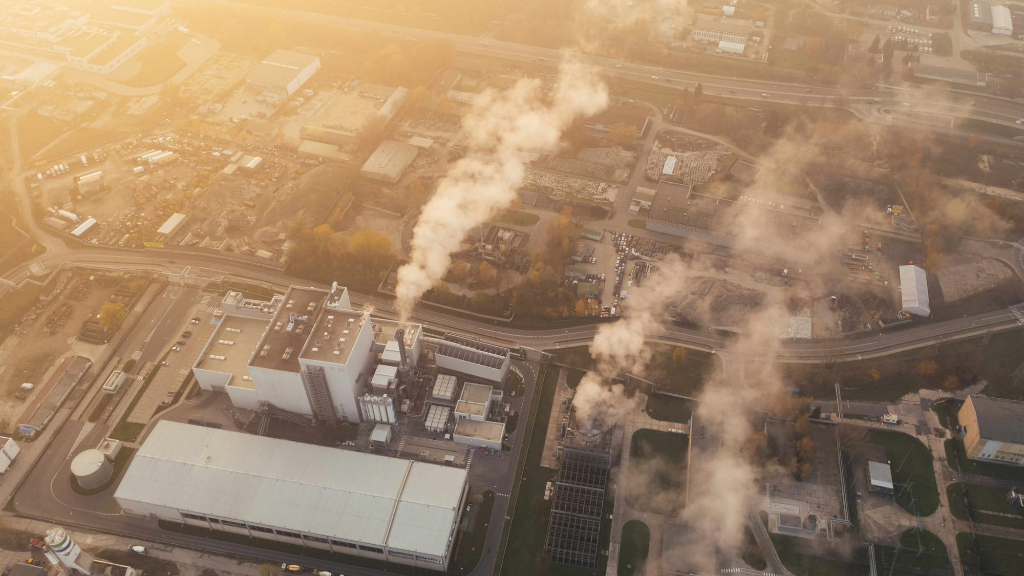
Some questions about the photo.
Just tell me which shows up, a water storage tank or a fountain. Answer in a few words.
water storage tank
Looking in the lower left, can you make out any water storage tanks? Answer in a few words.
Yes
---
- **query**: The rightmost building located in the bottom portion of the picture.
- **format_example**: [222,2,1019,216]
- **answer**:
[959,394,1024,465]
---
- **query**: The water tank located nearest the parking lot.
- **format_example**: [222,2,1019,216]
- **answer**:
[71,448,114,489]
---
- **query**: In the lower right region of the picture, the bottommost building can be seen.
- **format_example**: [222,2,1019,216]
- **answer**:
[777,513,802,532]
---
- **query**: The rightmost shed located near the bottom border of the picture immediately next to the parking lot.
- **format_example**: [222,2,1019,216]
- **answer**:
[113,419,474,572]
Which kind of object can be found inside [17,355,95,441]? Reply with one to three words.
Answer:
barn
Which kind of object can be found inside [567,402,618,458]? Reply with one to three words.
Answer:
cooling tower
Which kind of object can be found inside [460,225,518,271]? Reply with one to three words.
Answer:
building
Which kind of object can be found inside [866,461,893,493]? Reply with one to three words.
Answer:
building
